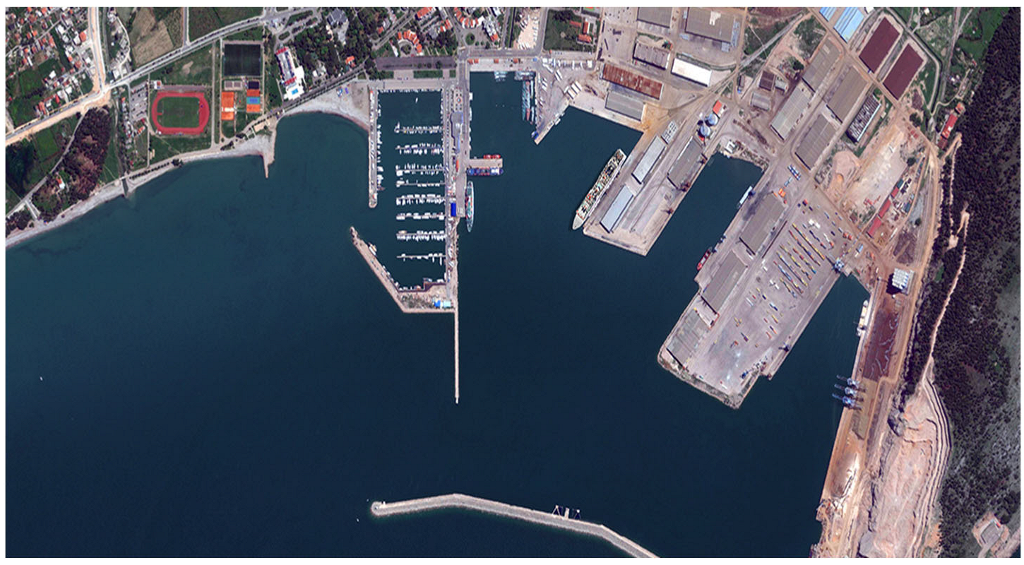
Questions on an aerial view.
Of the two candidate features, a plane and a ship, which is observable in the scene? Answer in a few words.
ship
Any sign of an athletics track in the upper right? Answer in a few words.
No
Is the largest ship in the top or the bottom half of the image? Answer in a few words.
top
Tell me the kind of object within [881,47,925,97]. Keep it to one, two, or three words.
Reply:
building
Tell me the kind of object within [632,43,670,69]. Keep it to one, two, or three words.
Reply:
shed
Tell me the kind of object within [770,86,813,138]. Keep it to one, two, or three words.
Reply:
building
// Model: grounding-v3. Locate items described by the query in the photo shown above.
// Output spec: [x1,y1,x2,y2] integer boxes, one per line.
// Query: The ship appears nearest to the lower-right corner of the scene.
[857,300,869,336]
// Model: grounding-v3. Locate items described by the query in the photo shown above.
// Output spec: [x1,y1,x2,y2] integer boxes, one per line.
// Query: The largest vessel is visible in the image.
[573,149,627,229]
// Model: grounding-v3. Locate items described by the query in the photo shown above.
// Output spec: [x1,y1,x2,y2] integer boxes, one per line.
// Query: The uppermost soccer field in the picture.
[222,41,263,77]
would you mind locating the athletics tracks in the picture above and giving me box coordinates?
[151,90,209,136]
